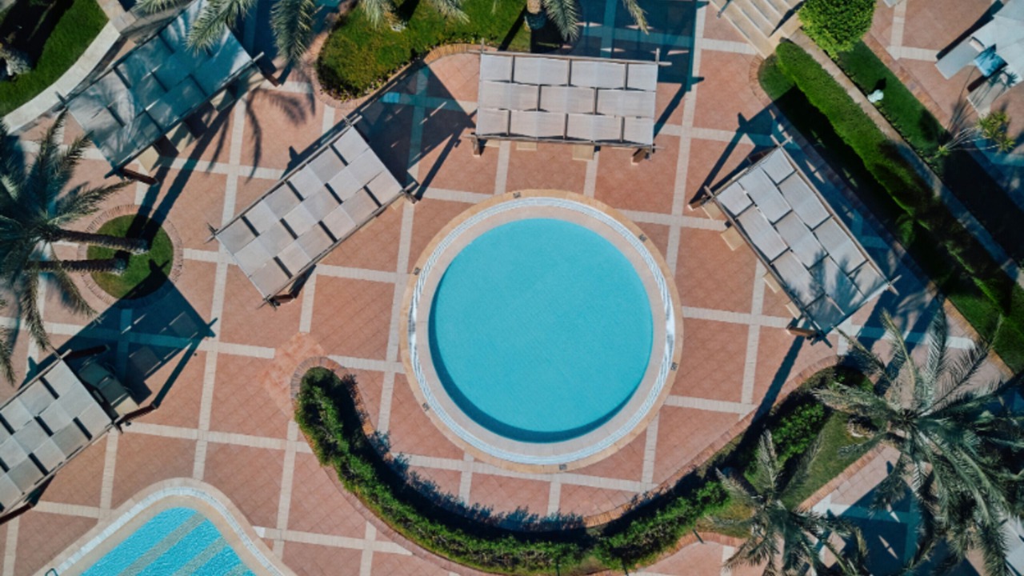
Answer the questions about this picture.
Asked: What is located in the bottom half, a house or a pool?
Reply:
pool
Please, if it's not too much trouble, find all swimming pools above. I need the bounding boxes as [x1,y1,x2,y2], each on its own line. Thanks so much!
[400,190,683,473]
[28,478,301,576]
